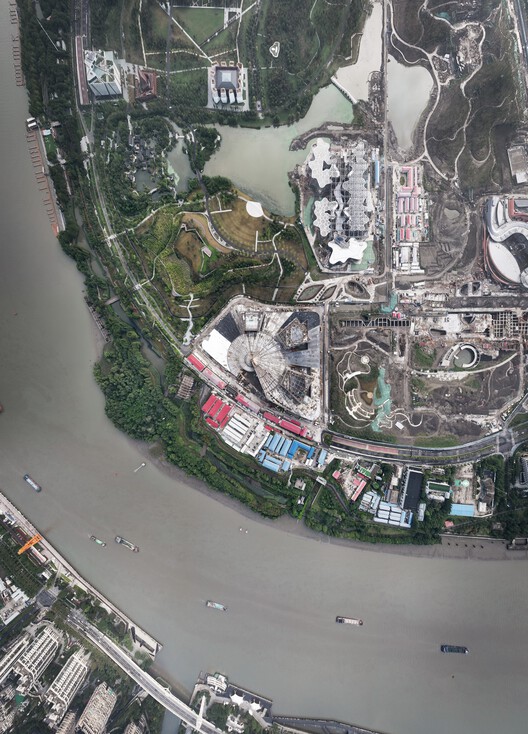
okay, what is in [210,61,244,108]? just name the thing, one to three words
building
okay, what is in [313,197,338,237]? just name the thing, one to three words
greenhouse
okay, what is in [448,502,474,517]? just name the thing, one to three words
building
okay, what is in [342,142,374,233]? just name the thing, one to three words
greenhouse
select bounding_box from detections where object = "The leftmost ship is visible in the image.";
[23,473,41,492]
